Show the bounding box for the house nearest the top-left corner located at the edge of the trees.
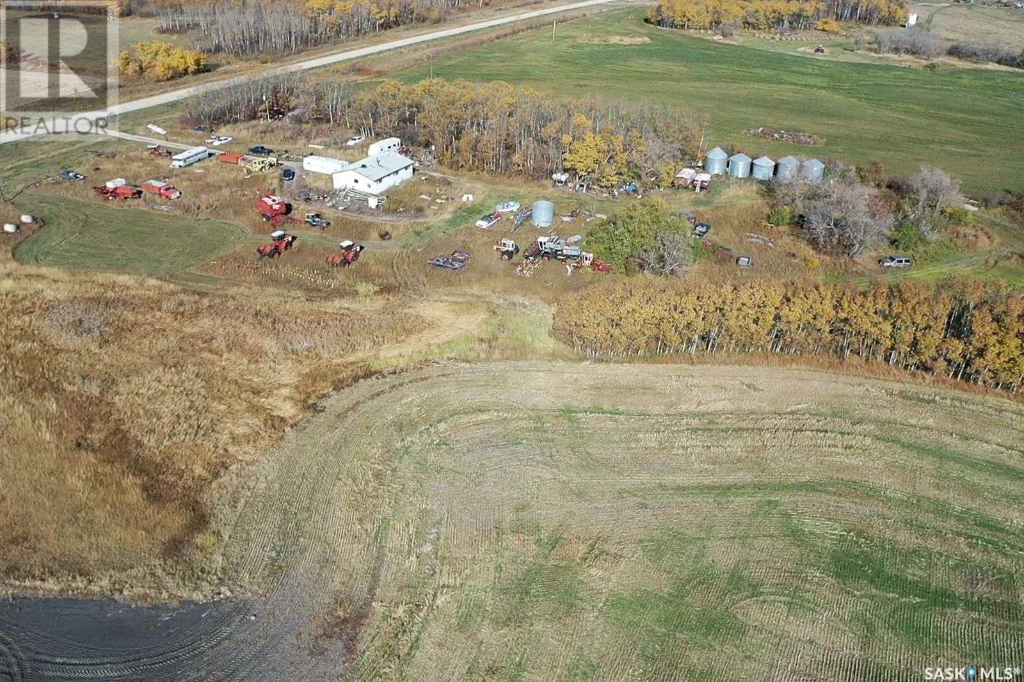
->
[327,150,416,197]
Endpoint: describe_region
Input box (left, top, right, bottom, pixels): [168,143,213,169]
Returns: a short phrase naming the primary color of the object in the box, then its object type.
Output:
white bus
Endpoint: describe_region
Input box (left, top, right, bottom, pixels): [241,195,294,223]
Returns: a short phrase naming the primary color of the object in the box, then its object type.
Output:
red work vehicle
